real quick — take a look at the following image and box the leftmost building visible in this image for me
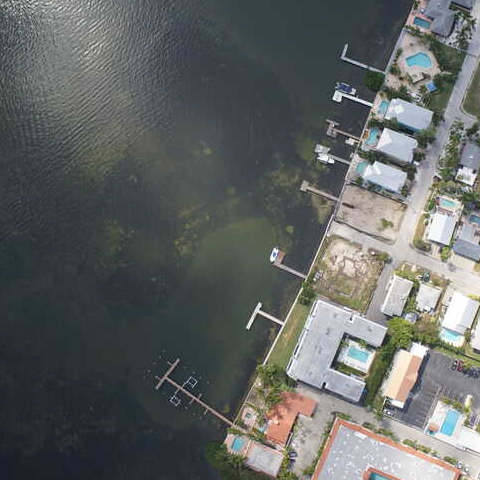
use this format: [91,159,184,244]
[246,439,283,476]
